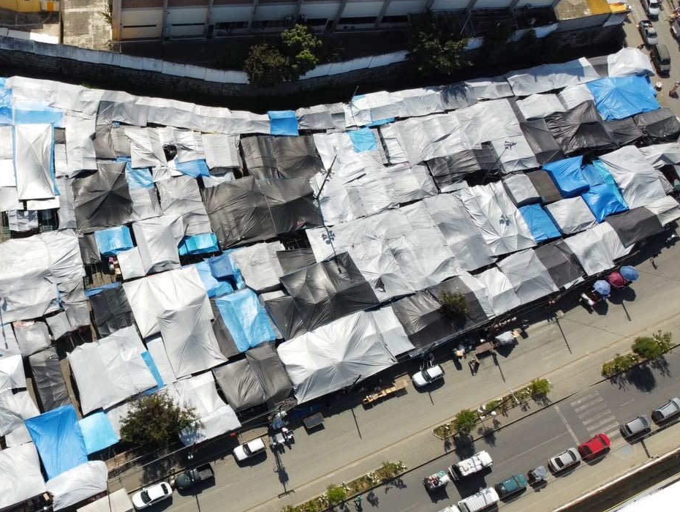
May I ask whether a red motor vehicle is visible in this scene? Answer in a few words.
Yes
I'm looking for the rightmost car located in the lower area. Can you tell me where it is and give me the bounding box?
[646,398,680,424]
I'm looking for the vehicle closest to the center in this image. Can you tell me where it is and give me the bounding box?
[410,363,446,389]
